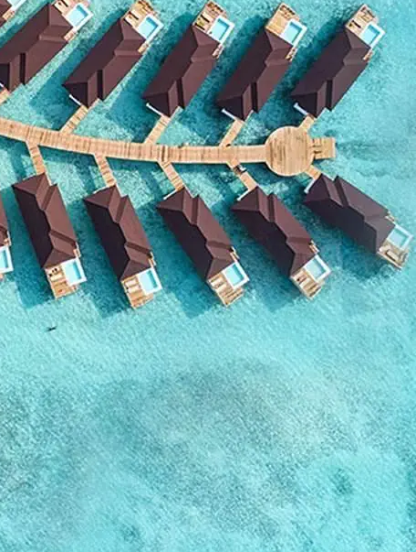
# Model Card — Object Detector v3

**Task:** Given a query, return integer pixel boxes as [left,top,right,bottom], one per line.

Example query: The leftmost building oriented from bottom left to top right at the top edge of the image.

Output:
[0,0,93,91]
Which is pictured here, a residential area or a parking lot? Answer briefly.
residential area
